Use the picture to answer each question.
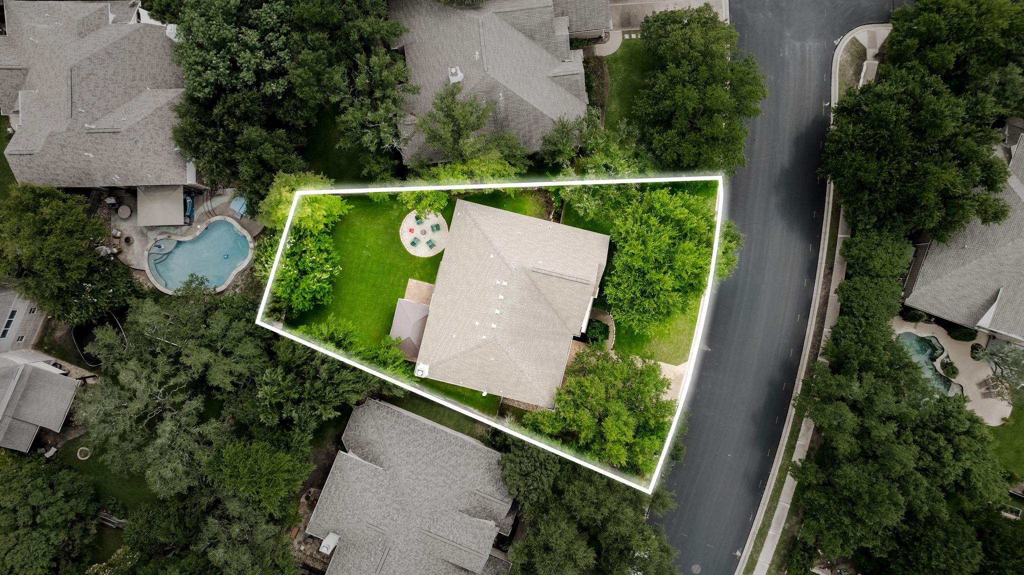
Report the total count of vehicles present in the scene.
zero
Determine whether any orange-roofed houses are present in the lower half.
No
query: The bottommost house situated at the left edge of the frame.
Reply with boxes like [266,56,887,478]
[0,282,96,454]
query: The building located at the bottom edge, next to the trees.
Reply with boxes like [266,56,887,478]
[306,400,513,575]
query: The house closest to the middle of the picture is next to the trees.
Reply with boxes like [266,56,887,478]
[414,199,611,411]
